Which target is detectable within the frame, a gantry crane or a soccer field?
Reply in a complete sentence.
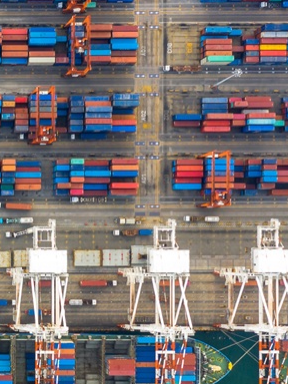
Of the two, only a gantry crane appears.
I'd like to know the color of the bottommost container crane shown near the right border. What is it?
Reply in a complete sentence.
The color of the bottommost container crane shown near the right border is white.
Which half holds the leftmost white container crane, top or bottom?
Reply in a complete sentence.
The leftmost white container crane sits in the bottom half of the picture.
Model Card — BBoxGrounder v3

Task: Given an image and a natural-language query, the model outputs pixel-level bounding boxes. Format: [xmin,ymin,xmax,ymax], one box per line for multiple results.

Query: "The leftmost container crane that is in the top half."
[25,83,56,144]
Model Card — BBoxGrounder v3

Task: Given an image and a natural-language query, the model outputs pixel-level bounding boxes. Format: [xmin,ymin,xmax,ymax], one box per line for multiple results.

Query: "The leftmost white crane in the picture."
[4,216,66,384]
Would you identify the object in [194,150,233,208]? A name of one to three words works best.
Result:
container crane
